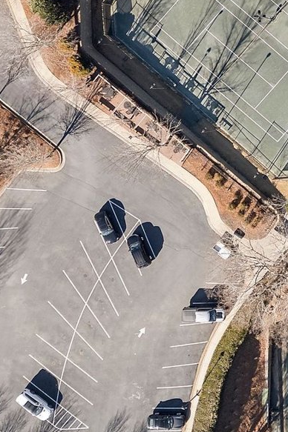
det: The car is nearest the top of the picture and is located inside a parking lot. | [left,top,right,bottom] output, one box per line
[93,210,121,244]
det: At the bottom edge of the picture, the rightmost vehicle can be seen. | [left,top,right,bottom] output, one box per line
[147,412,186,432]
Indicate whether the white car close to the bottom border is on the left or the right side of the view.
left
